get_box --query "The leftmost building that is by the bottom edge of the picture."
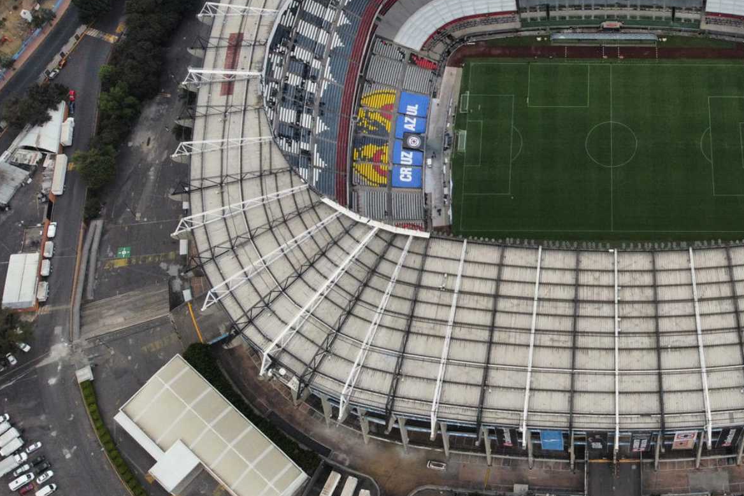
[113,354,315,496]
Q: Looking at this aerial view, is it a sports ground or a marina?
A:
sports ground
